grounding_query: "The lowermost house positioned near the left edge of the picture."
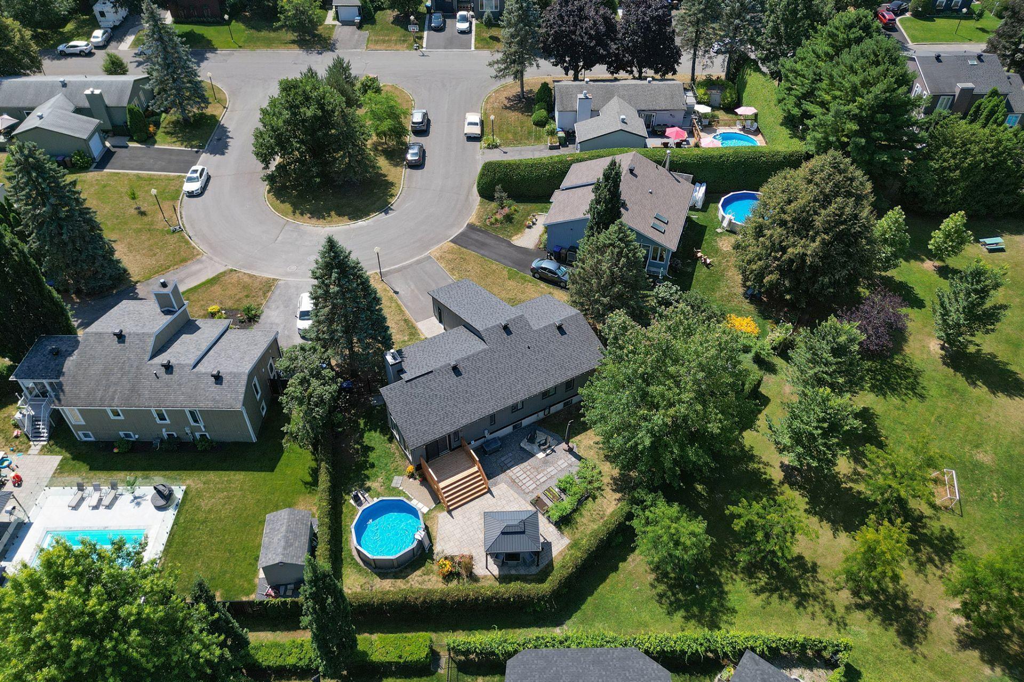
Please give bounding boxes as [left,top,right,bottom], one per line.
[12,284,280,438]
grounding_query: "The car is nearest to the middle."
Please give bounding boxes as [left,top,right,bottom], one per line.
[526,256,583,287]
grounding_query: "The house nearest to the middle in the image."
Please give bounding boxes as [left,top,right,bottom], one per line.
[381,279,612,470]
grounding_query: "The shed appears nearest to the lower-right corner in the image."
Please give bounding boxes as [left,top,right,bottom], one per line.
[712,651,779,682]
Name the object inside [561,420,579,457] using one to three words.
umbrella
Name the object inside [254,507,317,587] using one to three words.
shed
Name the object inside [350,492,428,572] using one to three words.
swimming pool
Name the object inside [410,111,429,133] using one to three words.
car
